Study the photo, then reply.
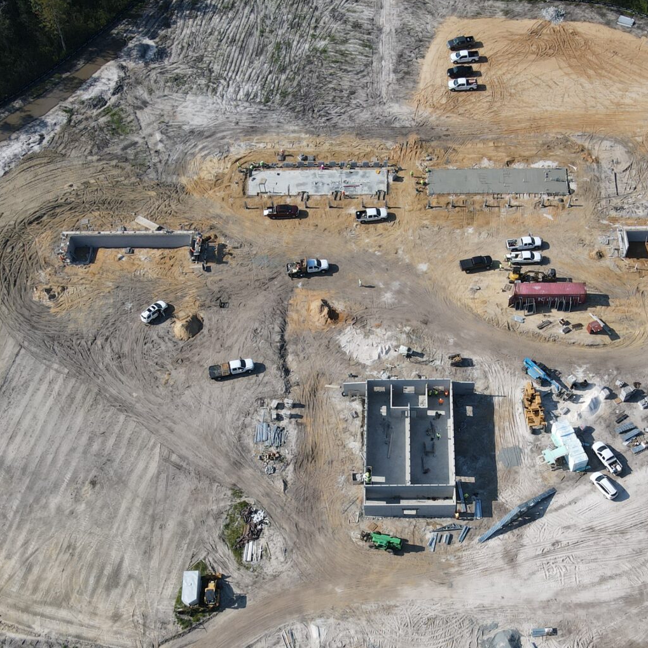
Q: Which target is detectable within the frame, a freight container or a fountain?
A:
freight container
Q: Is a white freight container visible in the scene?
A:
No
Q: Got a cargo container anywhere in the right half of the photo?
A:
Yes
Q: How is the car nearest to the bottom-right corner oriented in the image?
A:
at an angle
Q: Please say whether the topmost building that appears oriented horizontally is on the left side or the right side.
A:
left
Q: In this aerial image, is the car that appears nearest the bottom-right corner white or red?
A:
white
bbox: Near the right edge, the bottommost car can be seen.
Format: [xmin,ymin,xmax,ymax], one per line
[588,473,621,502]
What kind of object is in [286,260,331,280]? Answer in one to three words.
vehicle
